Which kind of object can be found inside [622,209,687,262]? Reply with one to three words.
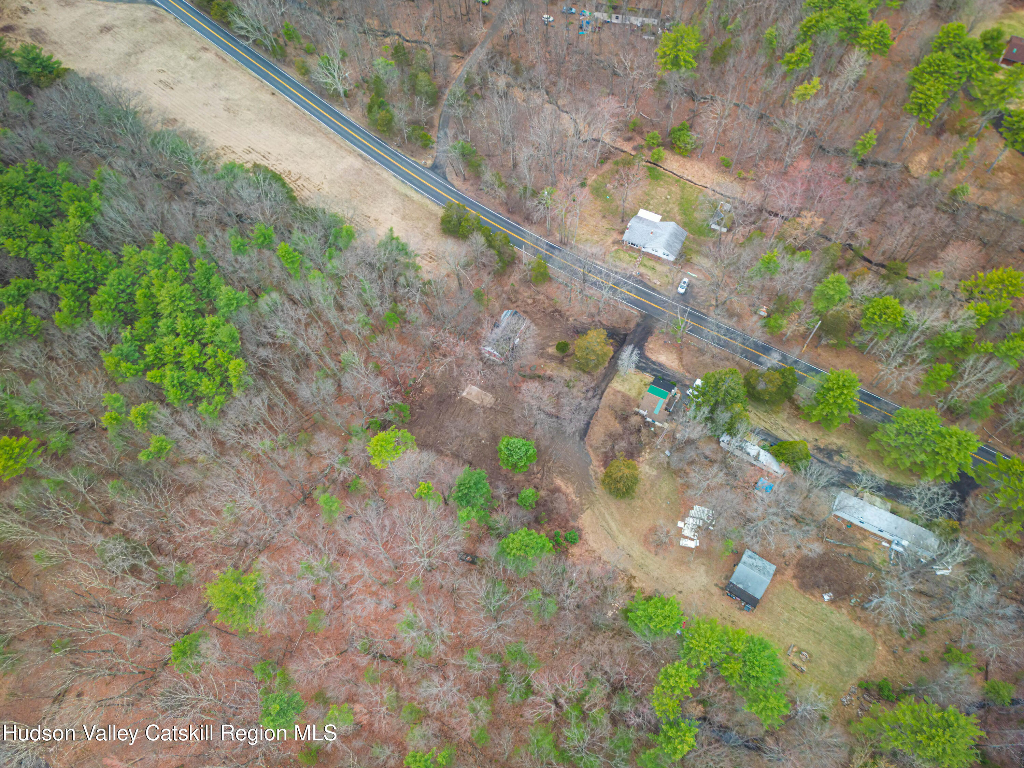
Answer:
house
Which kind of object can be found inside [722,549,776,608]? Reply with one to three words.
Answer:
shed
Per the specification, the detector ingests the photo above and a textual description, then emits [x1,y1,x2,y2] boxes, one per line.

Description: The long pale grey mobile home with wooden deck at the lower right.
[833,492,940,557]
